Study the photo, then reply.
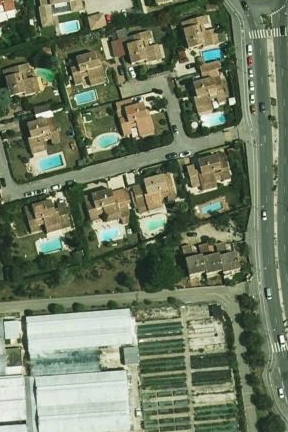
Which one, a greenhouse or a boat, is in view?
greenhouse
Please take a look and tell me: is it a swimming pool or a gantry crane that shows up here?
swimming pool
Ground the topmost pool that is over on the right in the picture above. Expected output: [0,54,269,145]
[200,48,222,64]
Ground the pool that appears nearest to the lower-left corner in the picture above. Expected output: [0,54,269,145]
[35,232,63,256]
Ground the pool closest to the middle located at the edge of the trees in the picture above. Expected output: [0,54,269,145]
[140,214,166,234]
